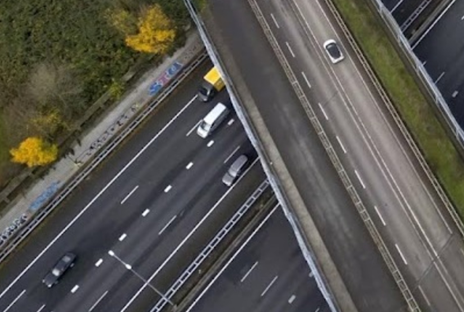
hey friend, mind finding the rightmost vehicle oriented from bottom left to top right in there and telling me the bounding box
[219,155,252,187]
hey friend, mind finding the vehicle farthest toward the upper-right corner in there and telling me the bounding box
[323,38,347,66]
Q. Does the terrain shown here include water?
No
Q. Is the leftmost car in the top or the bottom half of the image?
bottom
